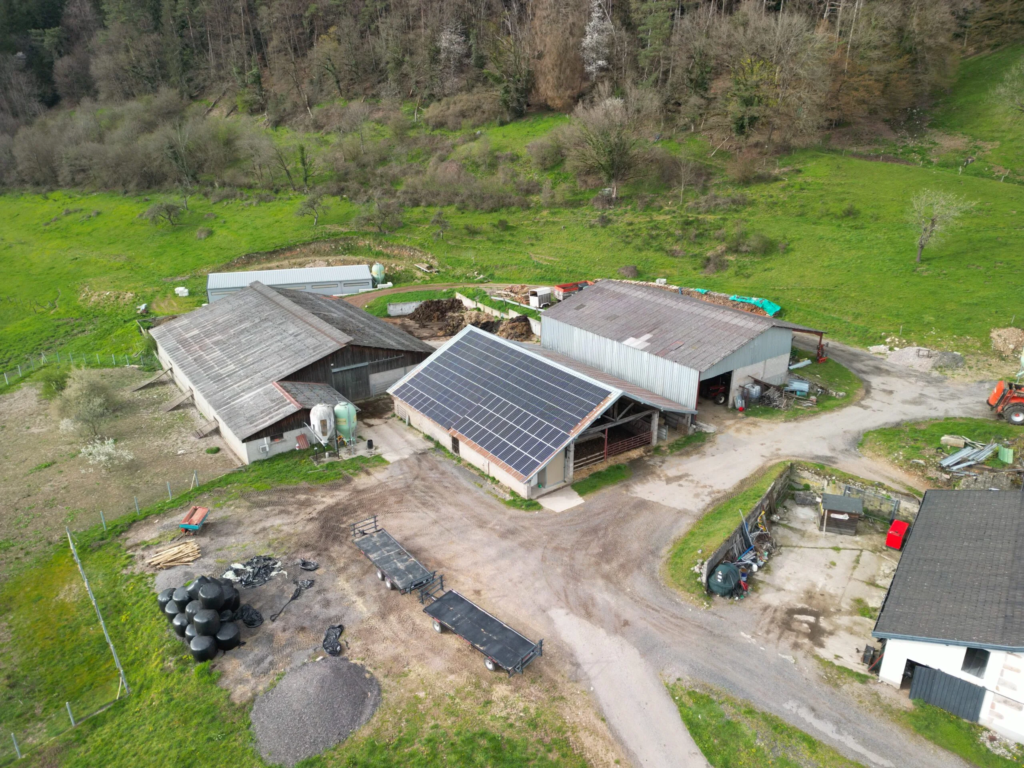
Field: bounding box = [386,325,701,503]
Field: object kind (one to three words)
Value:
barn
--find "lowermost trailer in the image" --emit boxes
[410,573,547,679]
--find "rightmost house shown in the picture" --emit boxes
[865,495,1024,742]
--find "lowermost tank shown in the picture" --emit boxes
[712,561,744,591]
